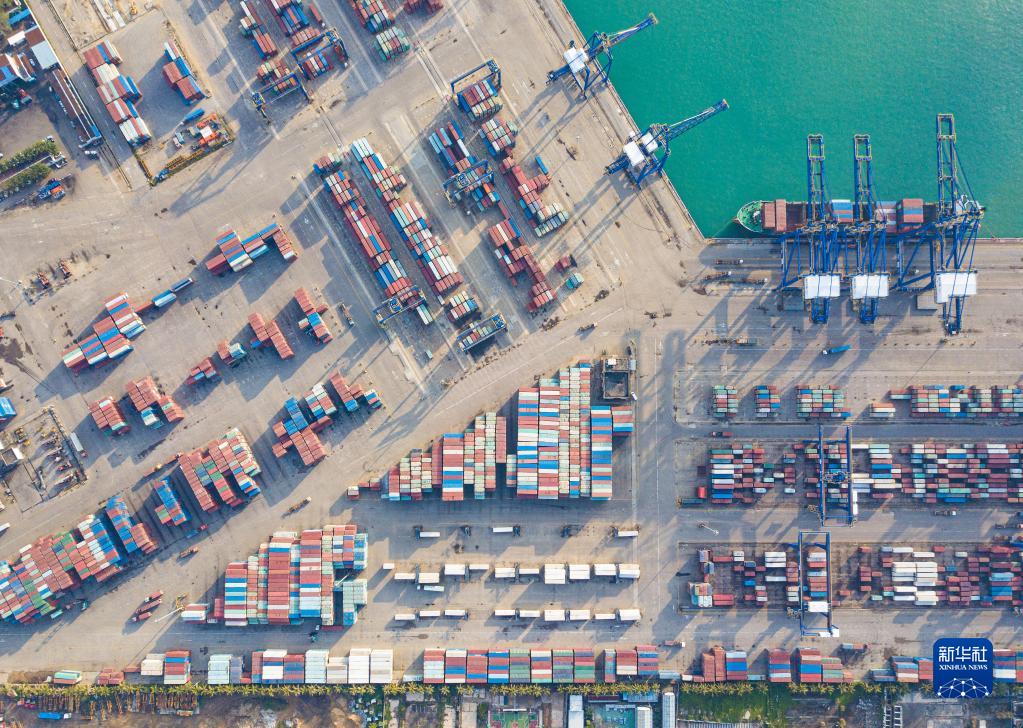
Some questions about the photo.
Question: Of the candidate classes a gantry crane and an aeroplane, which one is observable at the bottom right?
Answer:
gantry crane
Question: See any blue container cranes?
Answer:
Yes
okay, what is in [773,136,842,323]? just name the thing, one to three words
container crane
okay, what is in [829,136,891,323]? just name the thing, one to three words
container crane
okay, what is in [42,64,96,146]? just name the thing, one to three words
building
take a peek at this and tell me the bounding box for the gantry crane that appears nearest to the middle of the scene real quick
[459,315,506,354]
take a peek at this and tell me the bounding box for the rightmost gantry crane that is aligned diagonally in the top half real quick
[603,97,732,194]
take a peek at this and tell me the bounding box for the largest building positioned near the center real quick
[602,358,631,398]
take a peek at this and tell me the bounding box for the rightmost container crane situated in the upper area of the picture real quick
[893,115,987,334]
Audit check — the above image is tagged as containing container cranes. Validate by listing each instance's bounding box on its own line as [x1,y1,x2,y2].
[780,534,844,642]
[893,115,987,334]
[257,73,313,122]
[291,31,344,82]
[603,97,732,194]
[773,136,842,323]
[377,291,426,330]
[453,60,499,111]
[459,315,506,354]
[544,12,660,104]
[800,426,856,530]
[829,136,891,323]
